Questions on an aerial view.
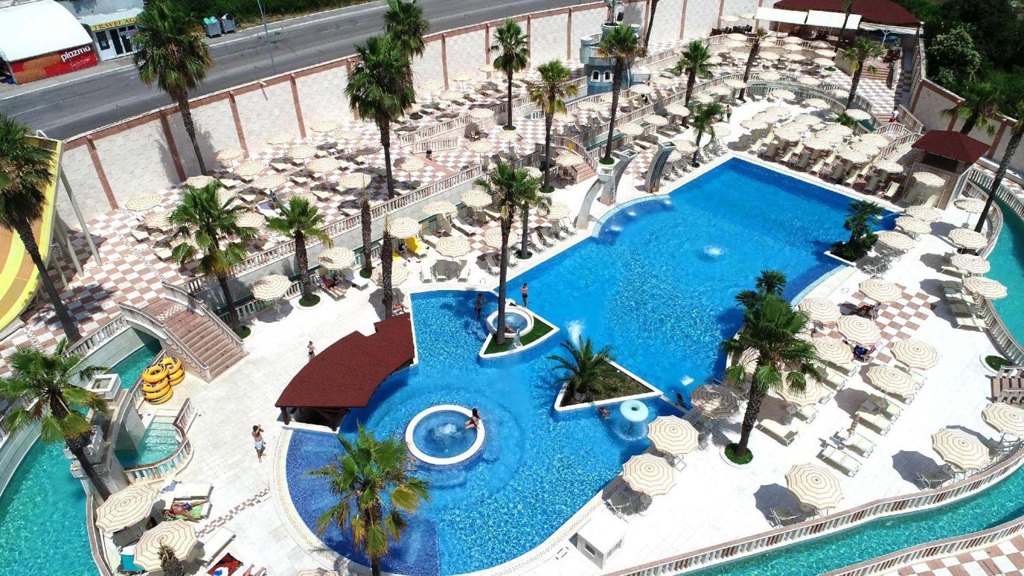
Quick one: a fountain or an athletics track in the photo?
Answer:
fountain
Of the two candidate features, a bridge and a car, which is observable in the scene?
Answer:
bridge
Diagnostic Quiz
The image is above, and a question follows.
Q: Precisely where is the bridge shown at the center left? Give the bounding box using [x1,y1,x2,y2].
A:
[125,277,250,385]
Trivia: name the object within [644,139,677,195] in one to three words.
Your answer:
fountain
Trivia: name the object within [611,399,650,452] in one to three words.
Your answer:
fountain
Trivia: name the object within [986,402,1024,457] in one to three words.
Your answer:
umbrella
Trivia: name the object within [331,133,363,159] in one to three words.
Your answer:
umbrella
